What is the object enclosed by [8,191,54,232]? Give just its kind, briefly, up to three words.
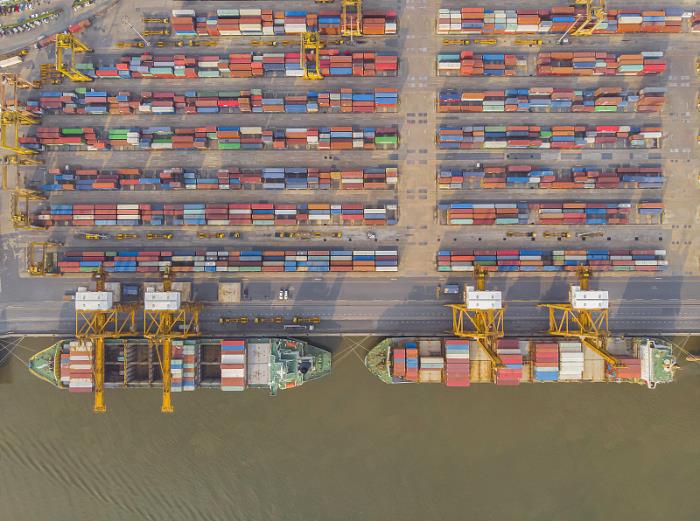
container crane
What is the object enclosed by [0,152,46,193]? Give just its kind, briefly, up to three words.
container crane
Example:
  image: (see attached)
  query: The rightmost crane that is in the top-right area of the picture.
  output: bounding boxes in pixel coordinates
[571,0,610,40]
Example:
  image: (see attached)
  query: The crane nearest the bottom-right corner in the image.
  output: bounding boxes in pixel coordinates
[541,263,630,367]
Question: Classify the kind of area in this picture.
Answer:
port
